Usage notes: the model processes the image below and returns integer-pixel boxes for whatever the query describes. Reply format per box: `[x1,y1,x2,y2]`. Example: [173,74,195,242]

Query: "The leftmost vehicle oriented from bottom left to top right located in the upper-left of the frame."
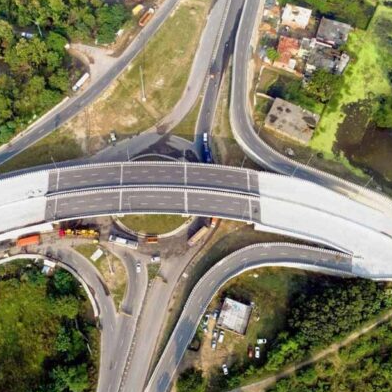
[74,71,91,89]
